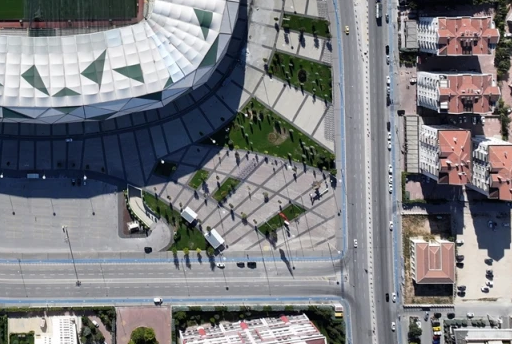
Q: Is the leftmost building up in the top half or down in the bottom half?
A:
bottom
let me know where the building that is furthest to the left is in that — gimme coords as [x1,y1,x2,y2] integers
[35,314,81,344]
